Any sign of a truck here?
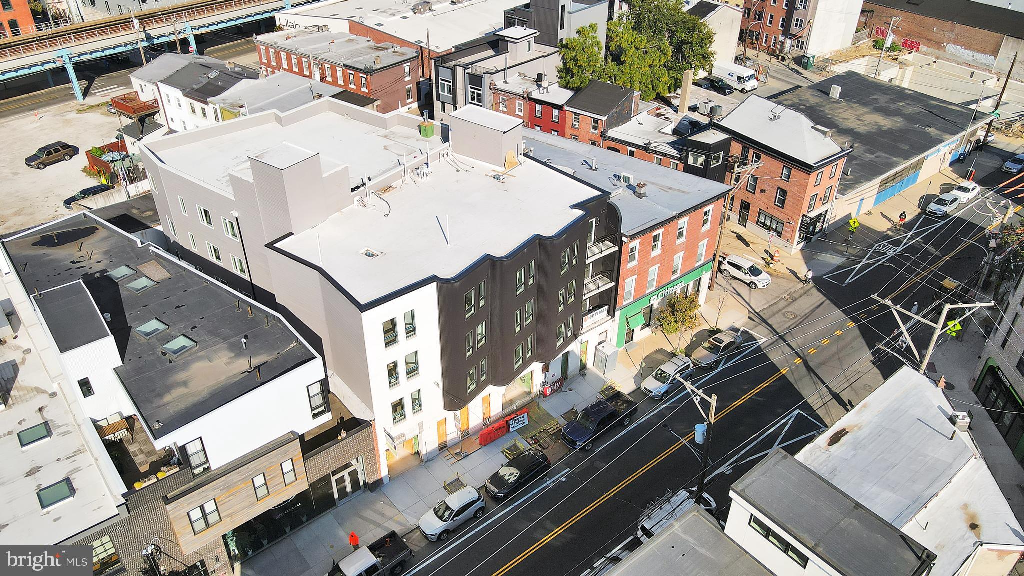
Yes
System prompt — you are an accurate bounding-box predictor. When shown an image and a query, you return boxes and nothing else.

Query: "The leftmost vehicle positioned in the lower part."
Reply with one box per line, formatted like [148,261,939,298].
[314,525,413,576]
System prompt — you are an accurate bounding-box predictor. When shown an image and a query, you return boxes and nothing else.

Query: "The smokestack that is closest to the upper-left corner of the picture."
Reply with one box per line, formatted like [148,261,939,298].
[223,54,237,69]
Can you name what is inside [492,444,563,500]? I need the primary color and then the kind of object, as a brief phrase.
black car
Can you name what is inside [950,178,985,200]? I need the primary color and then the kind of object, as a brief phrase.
white car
